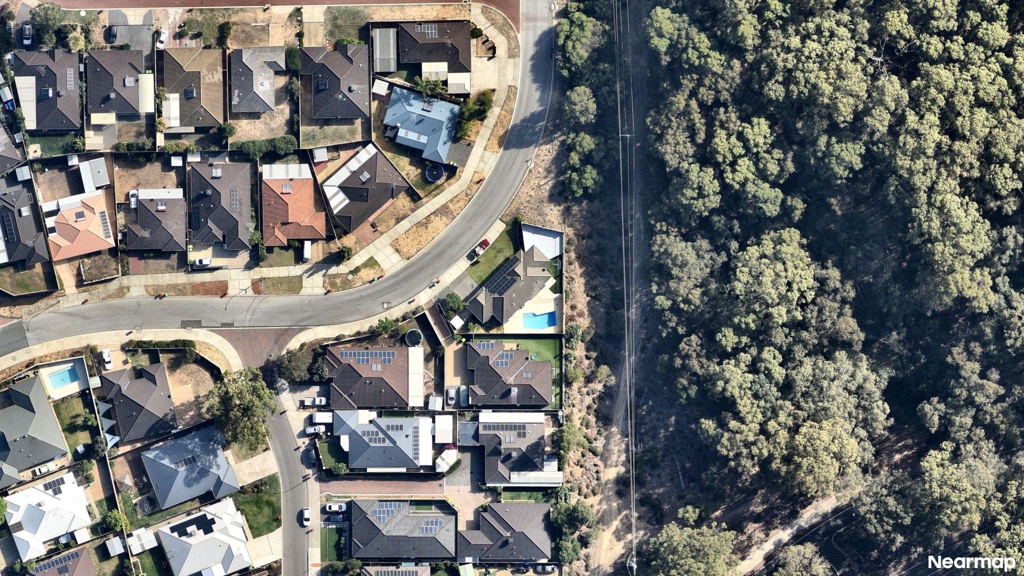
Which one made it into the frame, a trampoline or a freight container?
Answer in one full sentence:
The one in the frame is a trampoline.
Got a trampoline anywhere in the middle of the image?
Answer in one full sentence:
Yes, a trampoline can be seen in the middle of the image.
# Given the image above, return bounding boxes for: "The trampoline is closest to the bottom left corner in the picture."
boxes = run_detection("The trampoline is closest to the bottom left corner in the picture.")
[137,496,155,514]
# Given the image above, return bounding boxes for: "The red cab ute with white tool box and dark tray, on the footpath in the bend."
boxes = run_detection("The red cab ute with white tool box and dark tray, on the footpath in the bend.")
[468,237,492,260]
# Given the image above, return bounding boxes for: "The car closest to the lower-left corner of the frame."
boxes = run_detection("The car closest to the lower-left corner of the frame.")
[34,462,56,476]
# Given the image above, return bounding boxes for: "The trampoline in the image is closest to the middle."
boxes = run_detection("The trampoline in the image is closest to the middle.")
[405,330,422,347]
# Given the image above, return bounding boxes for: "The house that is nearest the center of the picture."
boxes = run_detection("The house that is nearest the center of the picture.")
[464,245,555,325]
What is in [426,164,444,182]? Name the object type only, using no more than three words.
trampoline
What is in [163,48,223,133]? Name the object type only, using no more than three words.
house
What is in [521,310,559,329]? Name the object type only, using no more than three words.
swimming pool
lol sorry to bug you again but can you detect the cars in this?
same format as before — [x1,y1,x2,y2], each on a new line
[305,424,325,434]
[302,507,310,527]
[447,387,456,405]
[459,385,469,406]
[108,25,118,43]
[326,503,347,511]
[329,514,343,522]
[156,29,168,48]
[303,240,311,262]
[128,189,138,209]
[34,462,56,476]
[101,348,112,370]
[194,258,212,266]
[23,25,32,45]
[307,446,317,467]
[304,396,325,406]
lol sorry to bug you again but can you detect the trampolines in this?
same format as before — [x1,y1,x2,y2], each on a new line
[426,164,444,182]
[137,496,155,514]
[405,330,422,347]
